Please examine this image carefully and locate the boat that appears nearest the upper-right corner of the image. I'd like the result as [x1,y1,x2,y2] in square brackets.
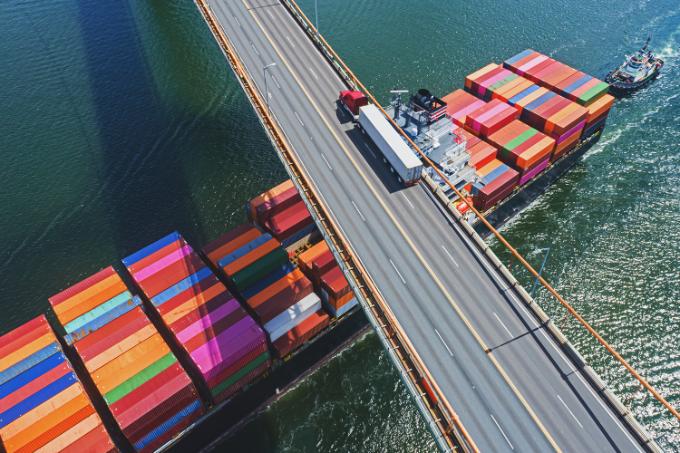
[609,38,669,93]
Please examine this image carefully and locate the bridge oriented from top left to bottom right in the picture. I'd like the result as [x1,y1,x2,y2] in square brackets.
[197,0,680,453]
